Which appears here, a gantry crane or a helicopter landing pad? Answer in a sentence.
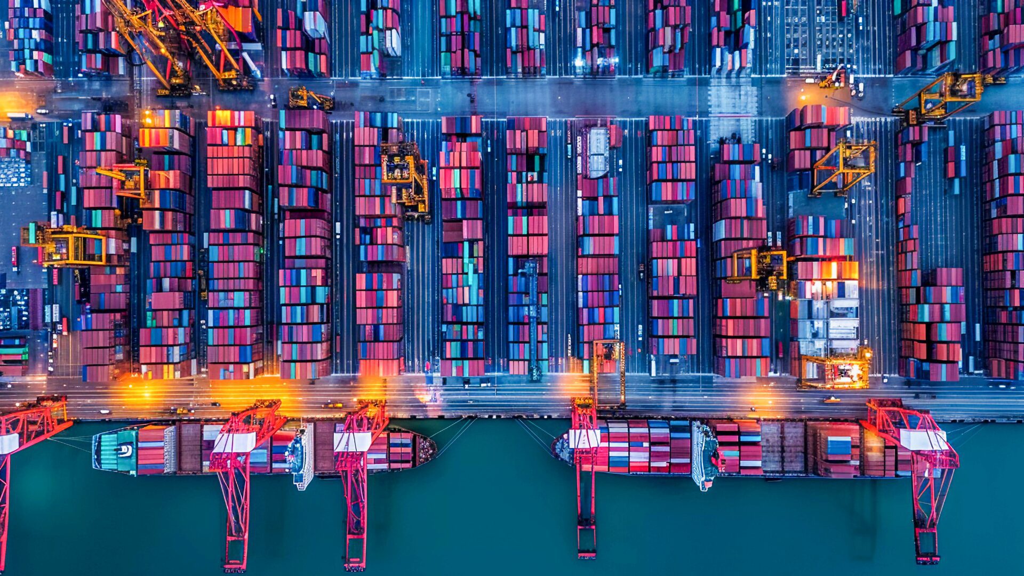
It is a gantry crane that can be seen here.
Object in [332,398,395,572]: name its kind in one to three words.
container crane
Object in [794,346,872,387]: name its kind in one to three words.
container crane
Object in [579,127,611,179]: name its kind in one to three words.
shed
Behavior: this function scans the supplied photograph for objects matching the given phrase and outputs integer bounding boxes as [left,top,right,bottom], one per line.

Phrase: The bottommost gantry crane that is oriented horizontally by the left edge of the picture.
[20,223,129,266]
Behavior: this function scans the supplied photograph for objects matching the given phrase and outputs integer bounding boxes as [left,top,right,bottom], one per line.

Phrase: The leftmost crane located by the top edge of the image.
[104,0,190,99]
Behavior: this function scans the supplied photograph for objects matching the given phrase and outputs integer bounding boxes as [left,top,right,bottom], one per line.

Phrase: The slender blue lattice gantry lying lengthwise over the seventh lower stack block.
[518,262,537,375]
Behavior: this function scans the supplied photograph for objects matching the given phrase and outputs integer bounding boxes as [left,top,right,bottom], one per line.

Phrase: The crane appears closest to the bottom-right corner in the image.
[857,398,962,565]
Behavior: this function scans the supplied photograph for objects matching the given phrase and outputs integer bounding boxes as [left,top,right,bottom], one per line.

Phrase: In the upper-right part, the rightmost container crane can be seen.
[897,73,1006,125]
